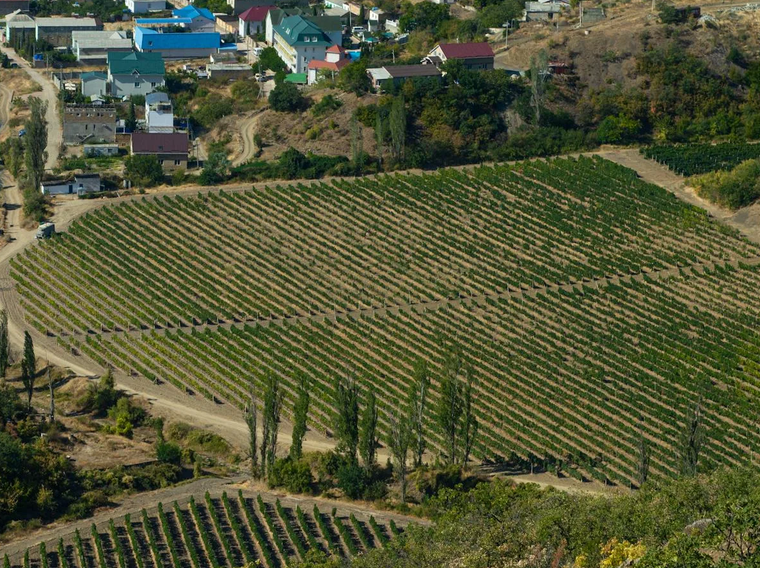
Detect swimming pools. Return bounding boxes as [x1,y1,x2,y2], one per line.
[342,54,357,67]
